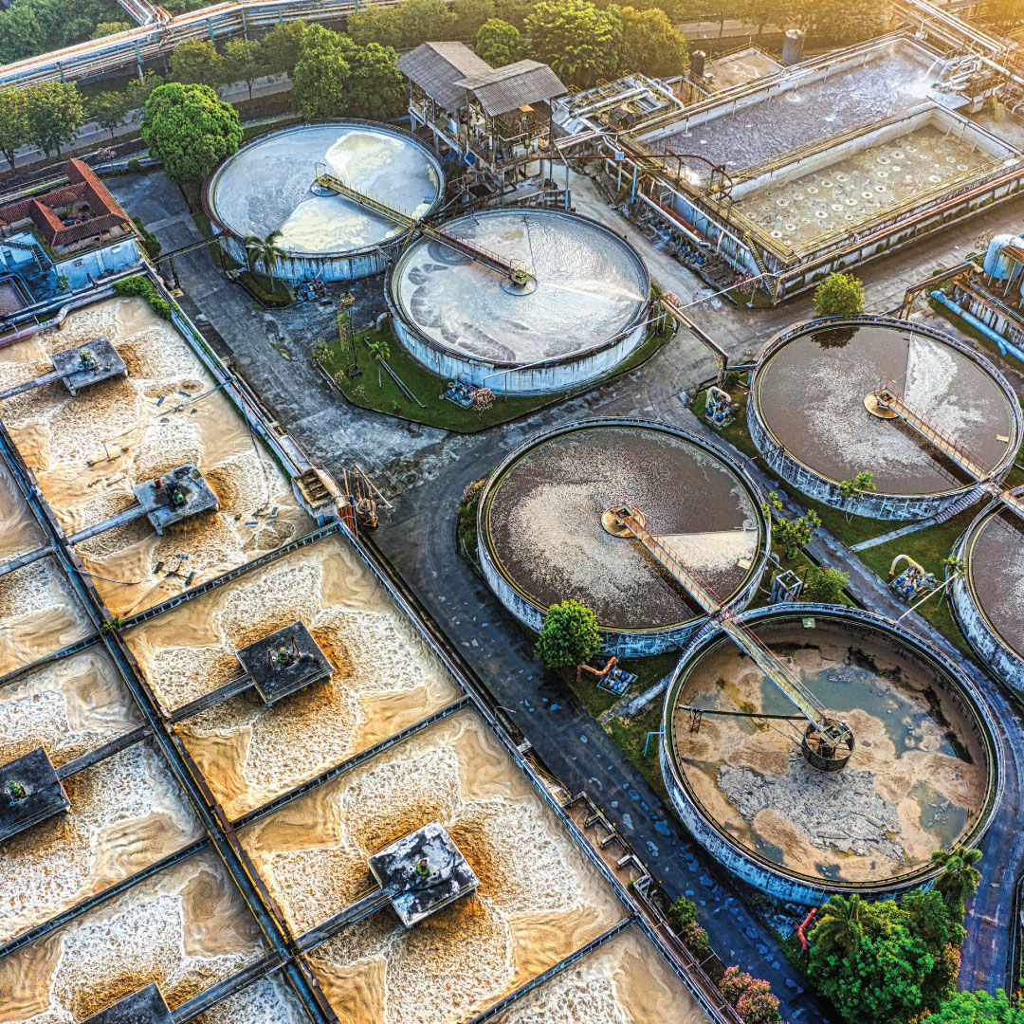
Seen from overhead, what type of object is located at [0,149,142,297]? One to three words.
house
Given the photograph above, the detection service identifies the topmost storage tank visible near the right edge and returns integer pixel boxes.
[981,239,1024,301]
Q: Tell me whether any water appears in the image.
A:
Yes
